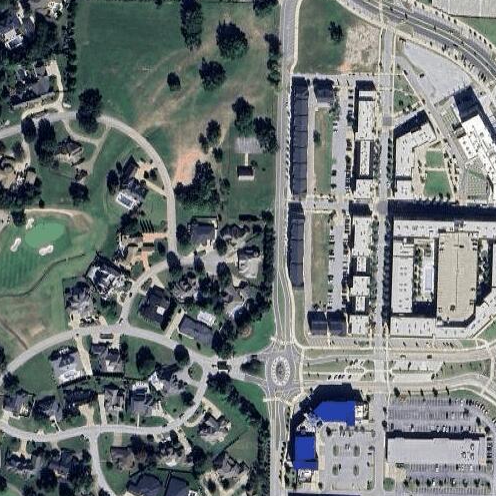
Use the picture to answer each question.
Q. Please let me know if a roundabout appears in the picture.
Yes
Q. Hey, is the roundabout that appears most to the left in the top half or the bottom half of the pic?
bottom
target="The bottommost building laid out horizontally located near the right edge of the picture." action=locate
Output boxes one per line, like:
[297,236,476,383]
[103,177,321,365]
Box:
[387,437,479,464]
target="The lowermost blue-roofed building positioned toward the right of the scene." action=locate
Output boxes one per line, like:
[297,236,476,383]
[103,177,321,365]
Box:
[295,435,317,470]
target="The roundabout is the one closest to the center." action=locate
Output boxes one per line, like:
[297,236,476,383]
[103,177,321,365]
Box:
[246,336,301,403]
